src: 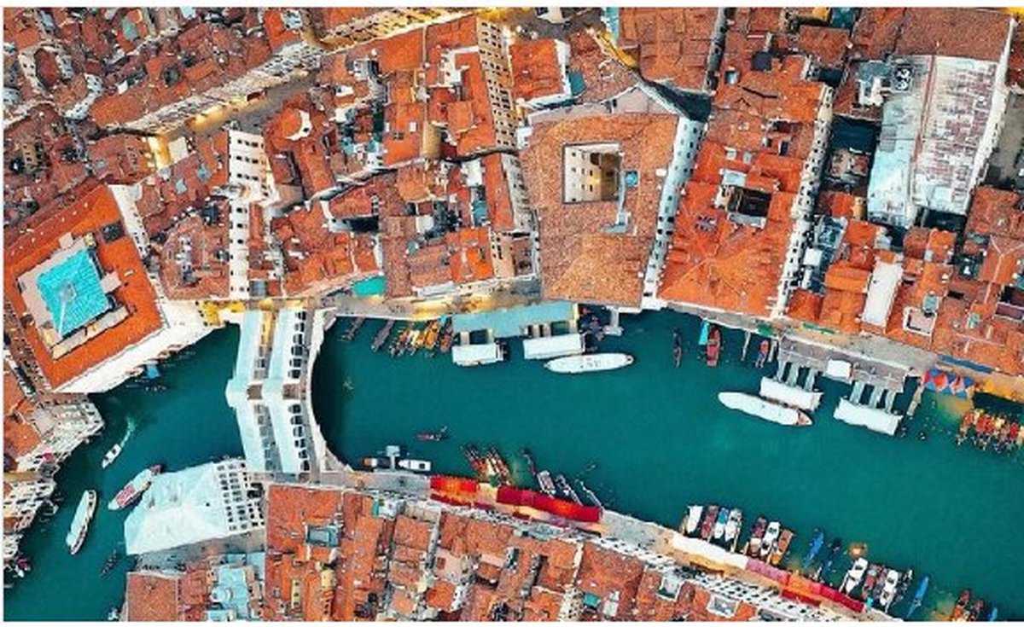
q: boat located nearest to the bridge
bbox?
[341,317,365,340]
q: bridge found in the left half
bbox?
[221,300,340,483]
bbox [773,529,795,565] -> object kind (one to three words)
boat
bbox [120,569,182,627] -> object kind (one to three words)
house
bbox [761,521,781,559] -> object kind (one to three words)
boat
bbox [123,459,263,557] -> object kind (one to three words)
building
